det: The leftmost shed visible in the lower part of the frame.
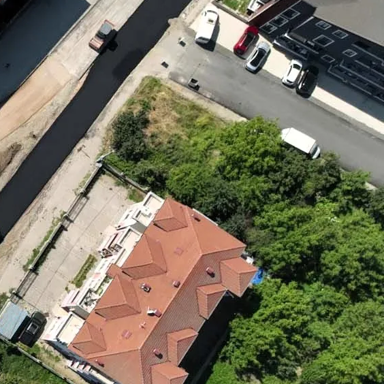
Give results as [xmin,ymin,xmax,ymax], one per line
[0,299,29,343]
